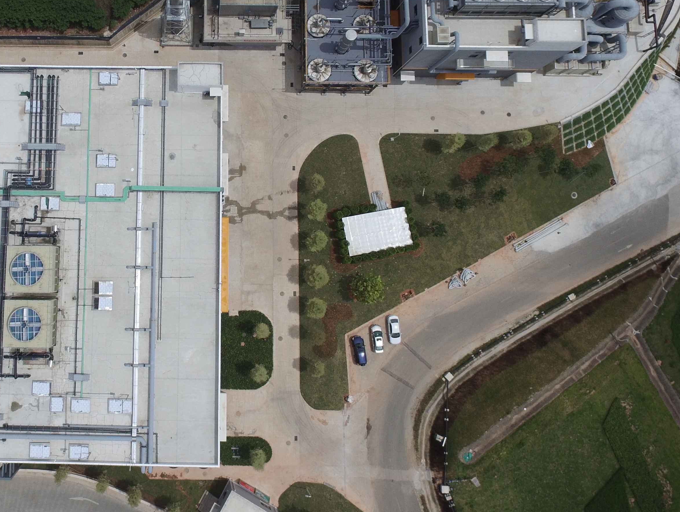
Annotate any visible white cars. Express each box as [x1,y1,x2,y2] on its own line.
[371,325,386,353]
[388,315,404,344]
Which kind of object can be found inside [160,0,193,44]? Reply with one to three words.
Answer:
chimney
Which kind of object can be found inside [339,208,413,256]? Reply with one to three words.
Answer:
building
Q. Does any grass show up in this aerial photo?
Yes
